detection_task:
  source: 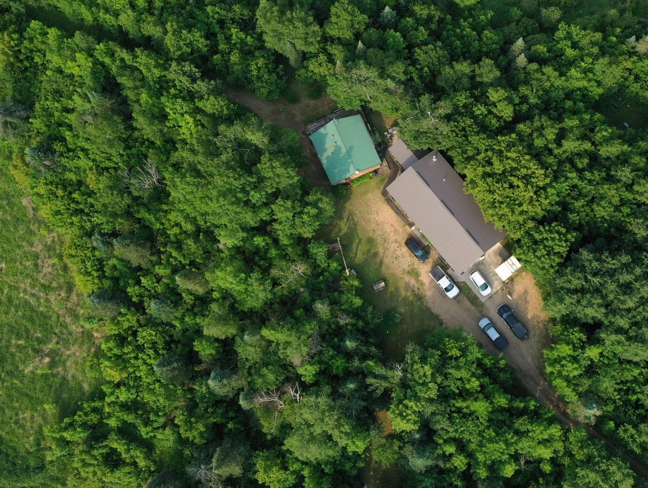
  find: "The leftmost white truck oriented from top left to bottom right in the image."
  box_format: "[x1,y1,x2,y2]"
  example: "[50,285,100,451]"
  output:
[427,263,460,299]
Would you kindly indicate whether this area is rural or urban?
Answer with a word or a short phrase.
rural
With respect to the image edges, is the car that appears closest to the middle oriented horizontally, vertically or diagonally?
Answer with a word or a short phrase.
diagonally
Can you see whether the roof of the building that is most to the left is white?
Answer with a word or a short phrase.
No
